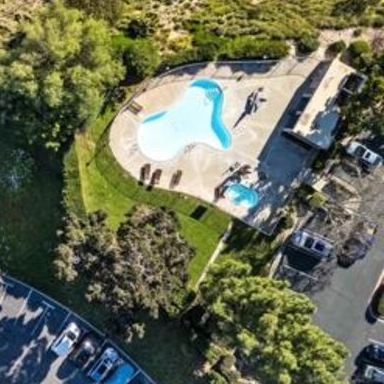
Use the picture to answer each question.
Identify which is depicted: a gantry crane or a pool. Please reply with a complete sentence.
The one in the frame is a pool.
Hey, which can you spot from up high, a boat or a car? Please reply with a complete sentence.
Looking from above, you can make out a car.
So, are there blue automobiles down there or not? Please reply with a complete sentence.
Yes, this view includes a blue automobile.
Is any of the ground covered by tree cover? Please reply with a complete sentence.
Yes, tree cover shows up in the scene.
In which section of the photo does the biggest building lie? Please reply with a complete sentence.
The biggest building appears toward the top right of the photo.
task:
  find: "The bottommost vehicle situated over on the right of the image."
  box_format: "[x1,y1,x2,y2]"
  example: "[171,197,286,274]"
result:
[360,362,384,384]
